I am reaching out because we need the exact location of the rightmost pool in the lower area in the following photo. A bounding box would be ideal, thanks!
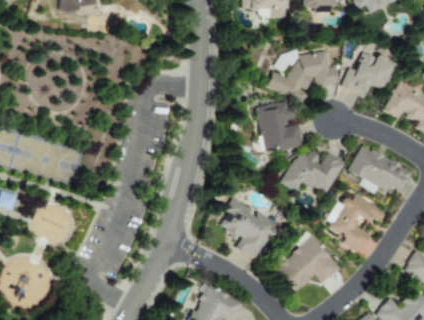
[296,194,315,207]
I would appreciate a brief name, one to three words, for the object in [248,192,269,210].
swimming pool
